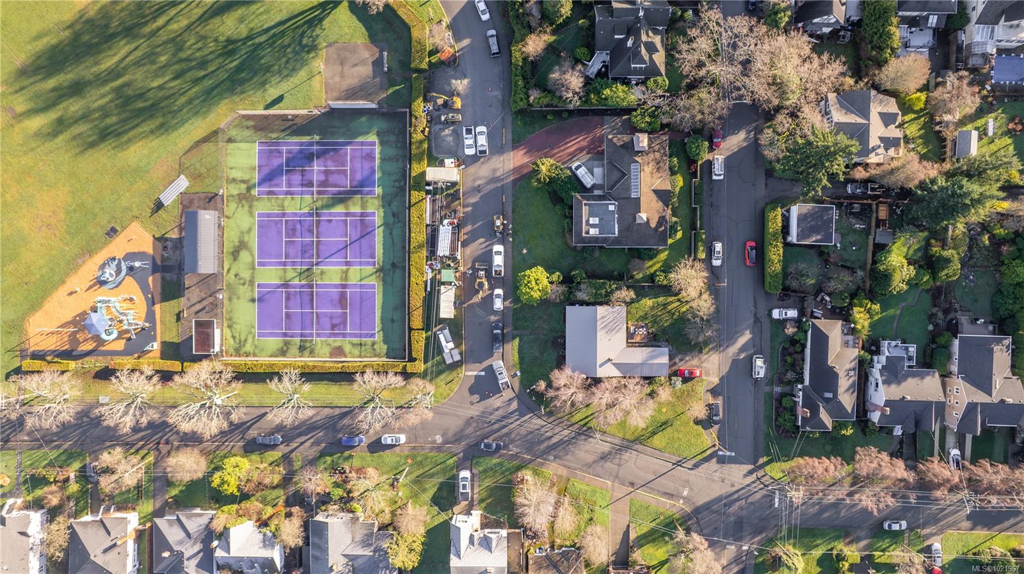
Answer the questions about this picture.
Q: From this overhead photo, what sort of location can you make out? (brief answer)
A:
residential area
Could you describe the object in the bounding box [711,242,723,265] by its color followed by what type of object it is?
white vehicle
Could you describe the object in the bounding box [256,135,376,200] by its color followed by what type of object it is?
purple tennis court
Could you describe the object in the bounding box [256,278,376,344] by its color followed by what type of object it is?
purple tennis court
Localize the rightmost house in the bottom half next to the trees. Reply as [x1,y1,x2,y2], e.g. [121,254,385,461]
[940,317,1024,435]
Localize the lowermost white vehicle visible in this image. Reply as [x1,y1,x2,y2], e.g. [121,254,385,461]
[931,542,944,566]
